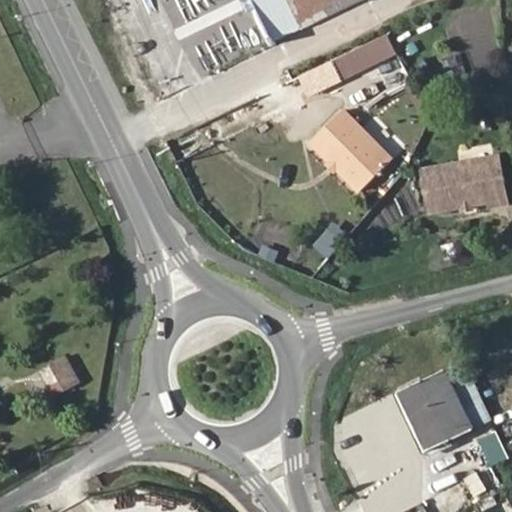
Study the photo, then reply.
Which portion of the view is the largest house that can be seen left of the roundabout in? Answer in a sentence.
The largest house that can be seen left of the roundabout appears toward the bottom left of the photo.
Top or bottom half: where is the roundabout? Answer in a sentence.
It is in the bottom half that the roundabout appears.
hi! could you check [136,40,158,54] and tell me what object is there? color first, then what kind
gray car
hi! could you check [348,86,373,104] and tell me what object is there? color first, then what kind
white vehicle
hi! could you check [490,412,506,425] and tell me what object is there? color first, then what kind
white vehicle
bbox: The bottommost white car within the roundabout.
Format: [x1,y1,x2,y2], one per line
[194,430,217,448]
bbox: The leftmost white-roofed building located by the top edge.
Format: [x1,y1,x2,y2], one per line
[252,0,302,38]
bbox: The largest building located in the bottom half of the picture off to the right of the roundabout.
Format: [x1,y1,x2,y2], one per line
[395,370,472,454]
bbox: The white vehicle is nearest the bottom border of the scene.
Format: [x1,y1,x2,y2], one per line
[429,474,458,494]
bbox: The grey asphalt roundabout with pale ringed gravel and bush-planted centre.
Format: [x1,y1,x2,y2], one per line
[120,244,334,491]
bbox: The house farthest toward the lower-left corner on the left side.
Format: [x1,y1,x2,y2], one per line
[49,356,80,391]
